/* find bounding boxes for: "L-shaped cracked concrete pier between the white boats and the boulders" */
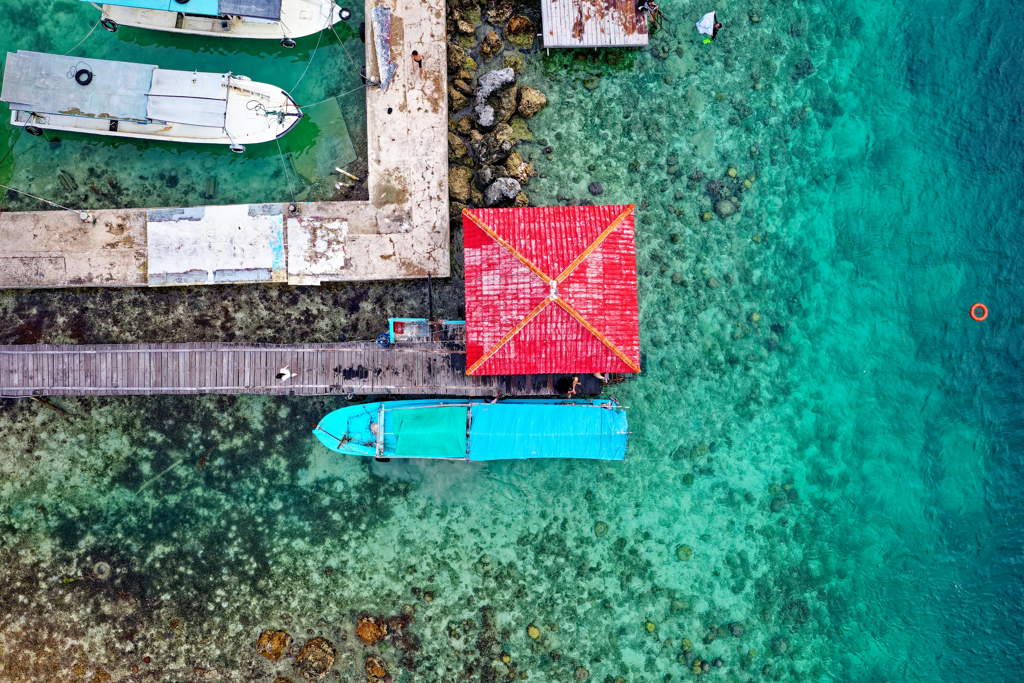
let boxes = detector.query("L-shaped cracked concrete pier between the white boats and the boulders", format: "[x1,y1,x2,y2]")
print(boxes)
[0,0,451,289]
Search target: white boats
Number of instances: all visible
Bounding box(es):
[1,49,306,145]
[80,0,347,41]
